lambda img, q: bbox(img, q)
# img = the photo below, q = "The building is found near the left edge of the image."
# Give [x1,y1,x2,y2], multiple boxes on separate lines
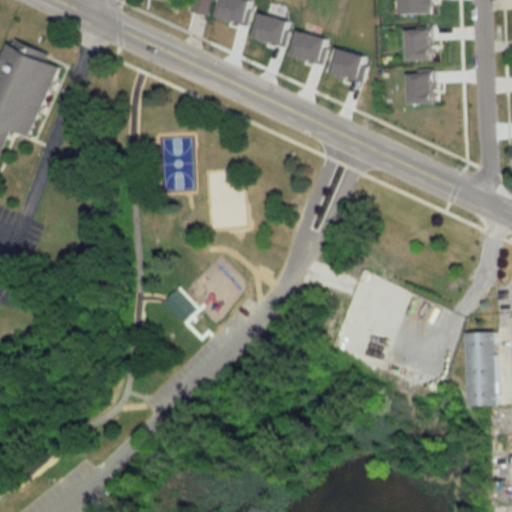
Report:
[0,41,58,152]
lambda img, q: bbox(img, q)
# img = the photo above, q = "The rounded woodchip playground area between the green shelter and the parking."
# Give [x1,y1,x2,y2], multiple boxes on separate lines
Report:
[188,256,248,326]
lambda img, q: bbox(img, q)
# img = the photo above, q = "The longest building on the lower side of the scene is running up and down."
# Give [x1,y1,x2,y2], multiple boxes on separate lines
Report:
[466,332,499,407]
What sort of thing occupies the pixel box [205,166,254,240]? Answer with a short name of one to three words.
sports court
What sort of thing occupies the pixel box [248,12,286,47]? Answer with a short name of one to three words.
house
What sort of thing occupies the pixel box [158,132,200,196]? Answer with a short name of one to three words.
basketball court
